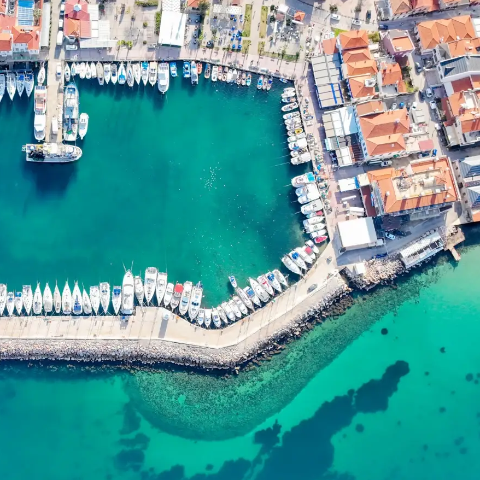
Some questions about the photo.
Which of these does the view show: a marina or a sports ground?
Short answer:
marina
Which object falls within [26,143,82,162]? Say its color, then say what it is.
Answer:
white boat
